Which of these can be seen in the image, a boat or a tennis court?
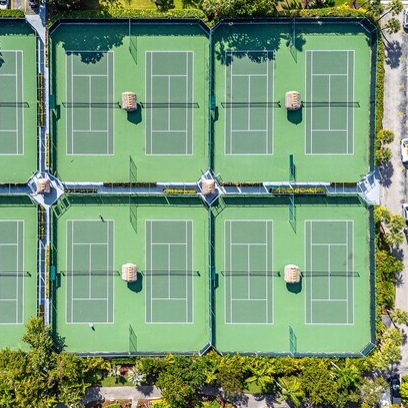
tennis court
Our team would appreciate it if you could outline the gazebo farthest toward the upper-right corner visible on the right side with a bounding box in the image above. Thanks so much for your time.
[283,91,299,110]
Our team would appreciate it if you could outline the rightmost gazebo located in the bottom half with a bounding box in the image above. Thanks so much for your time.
[282,264,299,284]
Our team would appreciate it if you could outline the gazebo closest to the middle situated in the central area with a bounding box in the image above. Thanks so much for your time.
[200,178,214,193]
